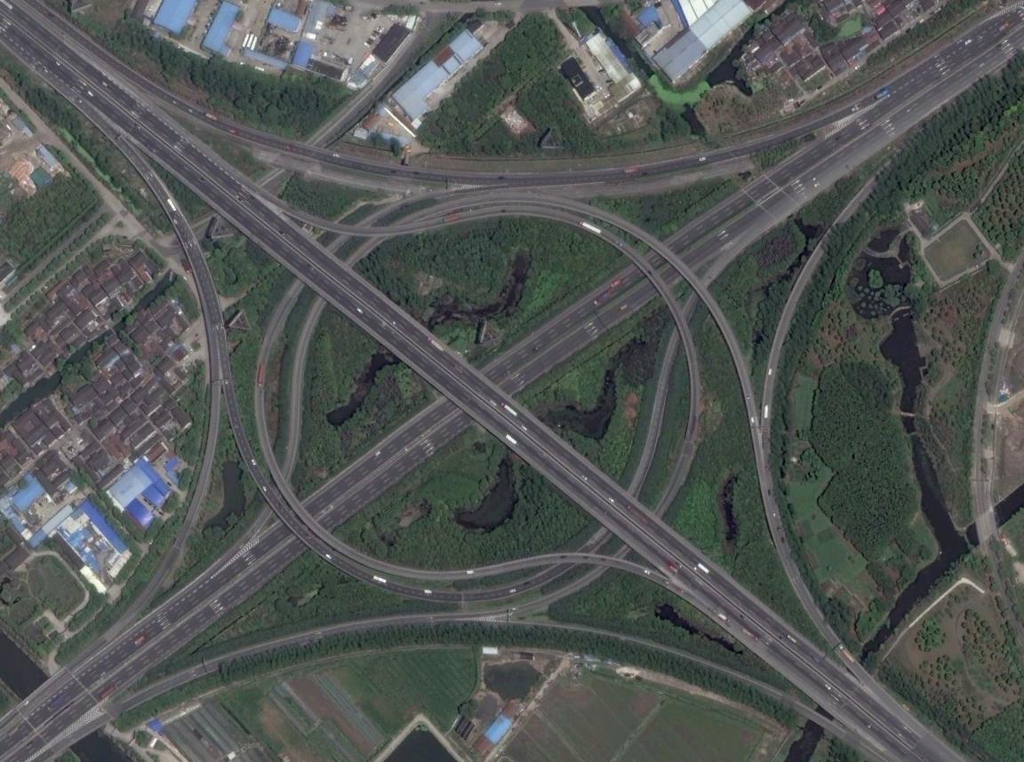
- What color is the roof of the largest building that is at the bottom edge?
blue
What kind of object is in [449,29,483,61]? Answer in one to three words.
building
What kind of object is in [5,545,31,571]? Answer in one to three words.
house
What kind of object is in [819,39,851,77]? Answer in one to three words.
house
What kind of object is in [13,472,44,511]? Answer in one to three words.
building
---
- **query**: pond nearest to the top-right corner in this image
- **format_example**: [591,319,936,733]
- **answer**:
[847,230,912,319]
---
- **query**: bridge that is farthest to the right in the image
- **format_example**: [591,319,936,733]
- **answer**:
[974,499,997,559]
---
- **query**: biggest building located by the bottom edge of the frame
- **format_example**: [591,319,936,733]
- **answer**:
[485,715,512,744]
